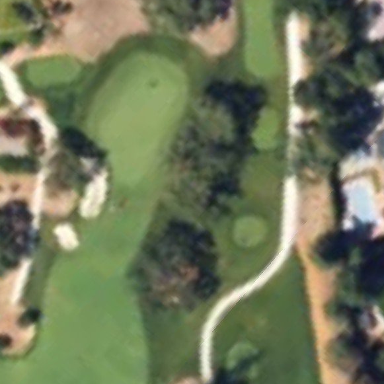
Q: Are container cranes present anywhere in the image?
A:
No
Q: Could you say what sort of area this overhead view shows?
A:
golf course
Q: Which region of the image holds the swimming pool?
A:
right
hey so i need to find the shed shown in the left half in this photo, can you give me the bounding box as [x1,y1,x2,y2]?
[0,130,29,154]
